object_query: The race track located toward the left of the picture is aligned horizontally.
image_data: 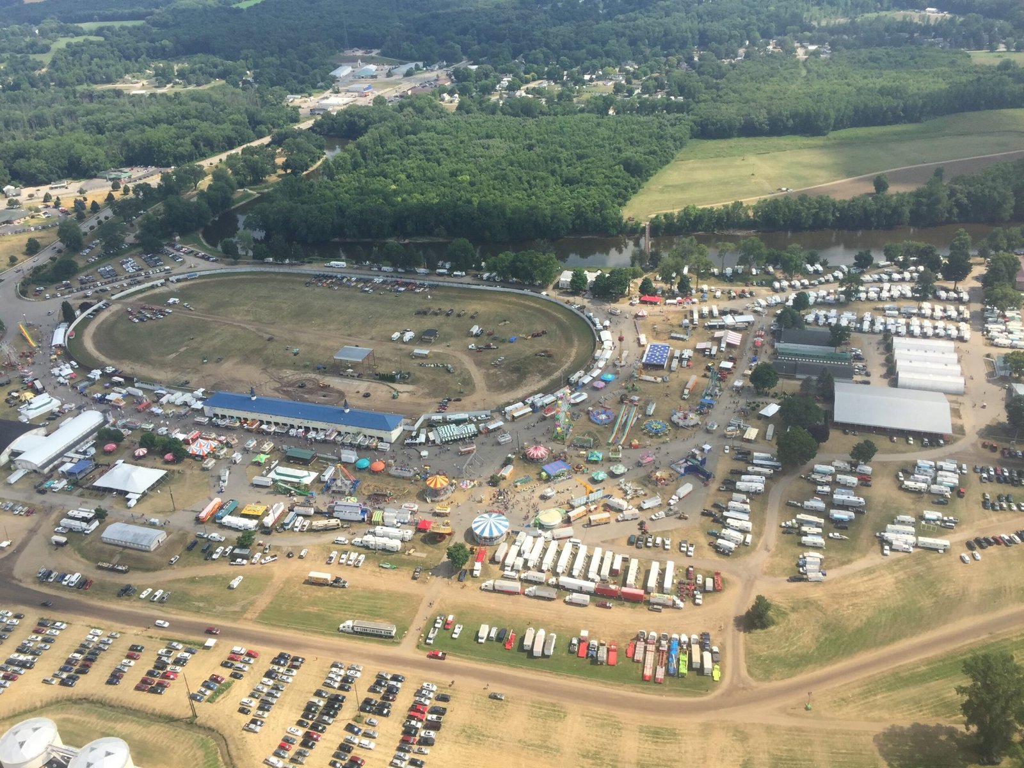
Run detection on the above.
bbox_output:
[80,303,577,416]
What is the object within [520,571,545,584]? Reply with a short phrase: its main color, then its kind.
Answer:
white vehicle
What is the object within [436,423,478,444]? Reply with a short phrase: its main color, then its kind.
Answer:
white tent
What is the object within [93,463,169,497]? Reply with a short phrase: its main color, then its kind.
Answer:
white tent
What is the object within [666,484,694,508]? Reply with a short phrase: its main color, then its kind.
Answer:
white truck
